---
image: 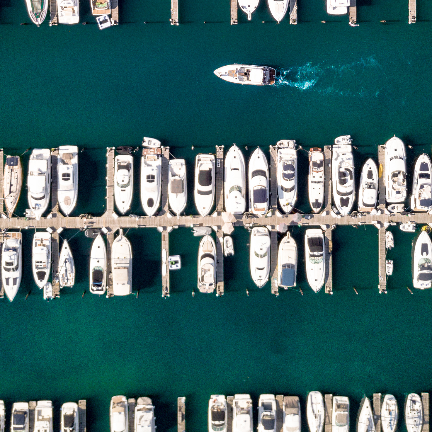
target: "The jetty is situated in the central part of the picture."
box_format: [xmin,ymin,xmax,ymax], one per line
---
[0,144,432,299]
